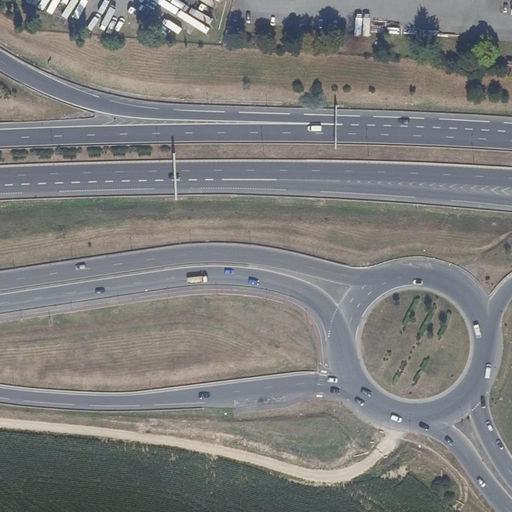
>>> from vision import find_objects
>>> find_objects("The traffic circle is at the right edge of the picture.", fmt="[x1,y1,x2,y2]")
[326,256,504,434]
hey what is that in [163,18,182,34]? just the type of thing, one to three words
vehicle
